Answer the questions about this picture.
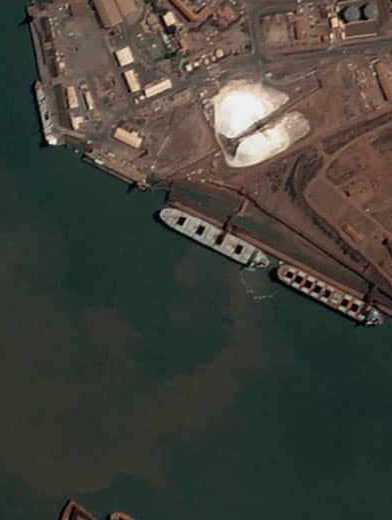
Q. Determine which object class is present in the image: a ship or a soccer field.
ship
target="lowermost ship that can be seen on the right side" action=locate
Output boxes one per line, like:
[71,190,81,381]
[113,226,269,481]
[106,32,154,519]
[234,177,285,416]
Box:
[278,267,385,327]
